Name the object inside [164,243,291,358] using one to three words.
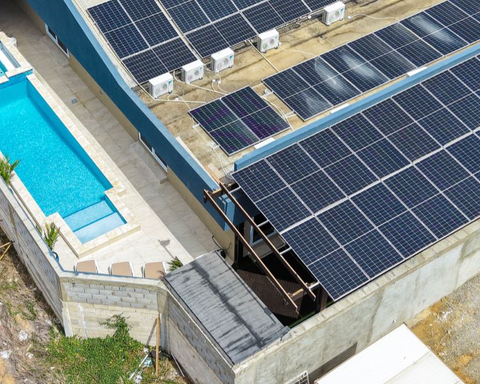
shed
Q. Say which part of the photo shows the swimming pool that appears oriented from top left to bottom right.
left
